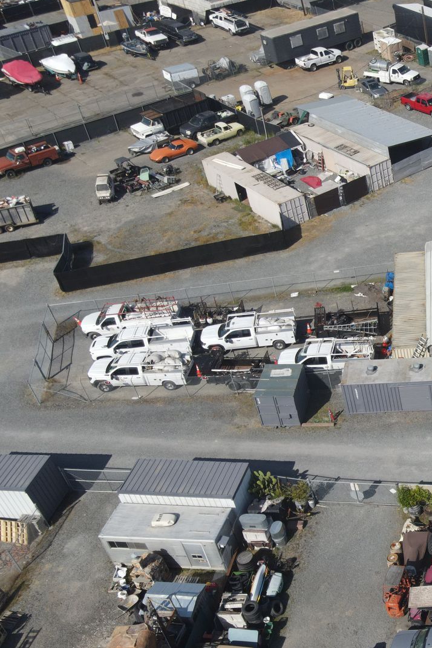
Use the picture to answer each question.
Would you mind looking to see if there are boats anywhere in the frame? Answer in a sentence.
Yes, looking at the shot, I can spot a boat.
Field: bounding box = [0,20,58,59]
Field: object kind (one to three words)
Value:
shipping container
